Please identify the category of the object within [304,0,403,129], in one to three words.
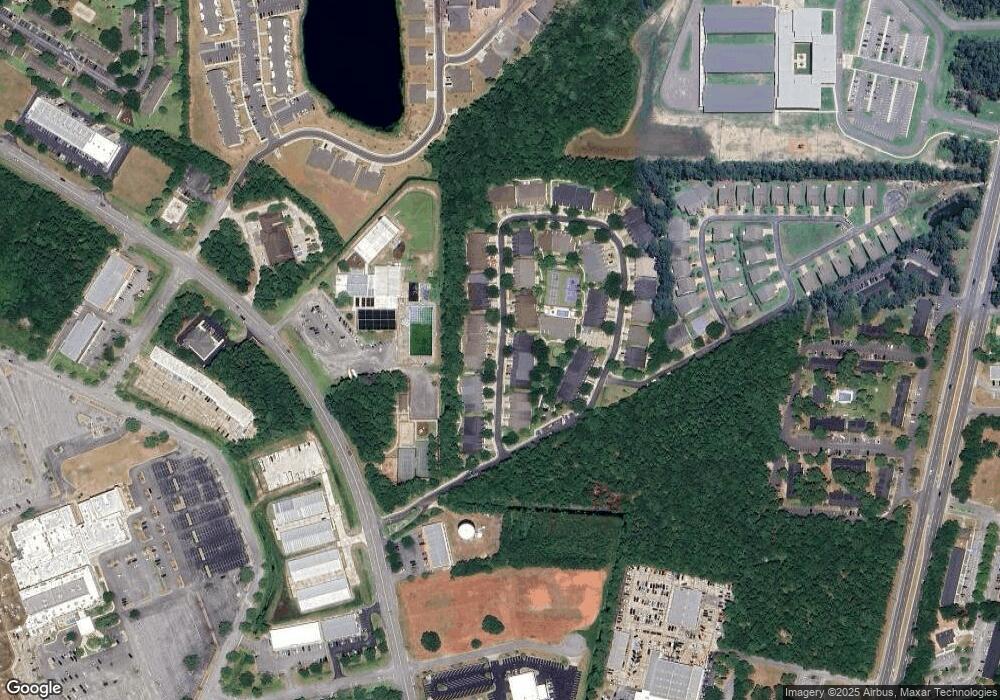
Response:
pond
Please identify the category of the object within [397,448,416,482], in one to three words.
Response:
tennis court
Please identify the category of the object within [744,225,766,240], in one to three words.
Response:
house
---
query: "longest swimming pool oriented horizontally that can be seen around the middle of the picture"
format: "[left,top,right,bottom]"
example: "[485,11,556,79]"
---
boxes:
[544,306,570,318]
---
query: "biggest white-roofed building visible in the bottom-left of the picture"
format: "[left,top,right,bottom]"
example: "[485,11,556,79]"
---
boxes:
[10,488,131,635]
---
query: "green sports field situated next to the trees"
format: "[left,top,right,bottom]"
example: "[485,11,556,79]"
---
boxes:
[386,185,438,268]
